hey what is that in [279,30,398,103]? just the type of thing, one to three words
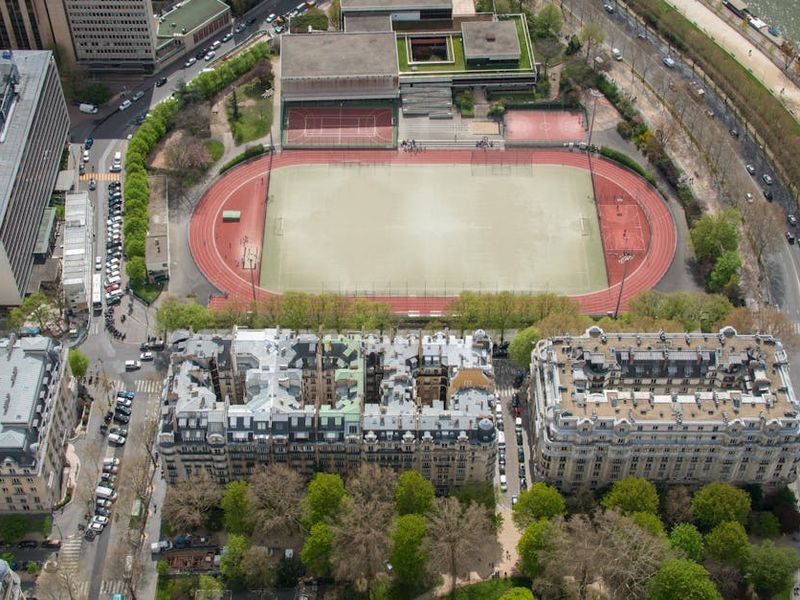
building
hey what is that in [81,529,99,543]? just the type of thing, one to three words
car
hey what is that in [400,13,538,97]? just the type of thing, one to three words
building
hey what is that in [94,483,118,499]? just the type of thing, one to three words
vehicle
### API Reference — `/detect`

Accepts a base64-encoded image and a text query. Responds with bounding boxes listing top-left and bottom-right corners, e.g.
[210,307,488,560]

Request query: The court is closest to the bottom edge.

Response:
[597,202,648,254]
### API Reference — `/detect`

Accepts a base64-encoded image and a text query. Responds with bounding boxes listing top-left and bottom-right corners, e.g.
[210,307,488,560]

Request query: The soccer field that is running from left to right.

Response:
[258,166,601,296]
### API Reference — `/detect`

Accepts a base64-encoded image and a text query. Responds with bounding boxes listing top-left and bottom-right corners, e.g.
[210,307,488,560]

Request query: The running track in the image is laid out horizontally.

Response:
[190,147,675,320]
